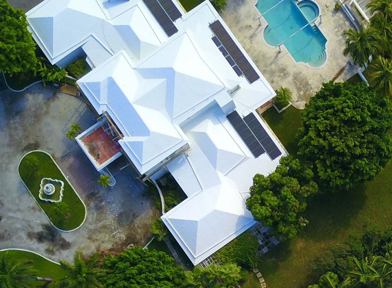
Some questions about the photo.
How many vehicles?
none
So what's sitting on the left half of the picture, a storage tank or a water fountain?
water fountain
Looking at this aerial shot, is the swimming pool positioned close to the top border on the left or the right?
right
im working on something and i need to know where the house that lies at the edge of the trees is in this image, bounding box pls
[28,0,284,266]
